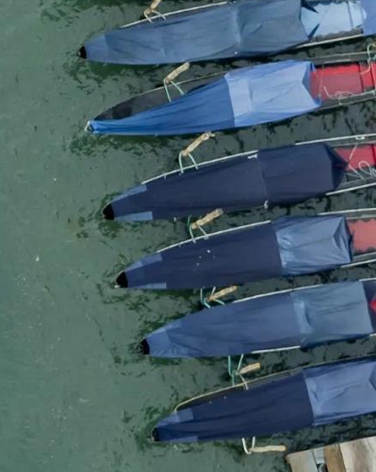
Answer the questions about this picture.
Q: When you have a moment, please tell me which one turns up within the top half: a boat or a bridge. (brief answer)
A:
boat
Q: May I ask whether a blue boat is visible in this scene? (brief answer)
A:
Yes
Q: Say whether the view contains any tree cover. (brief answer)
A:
No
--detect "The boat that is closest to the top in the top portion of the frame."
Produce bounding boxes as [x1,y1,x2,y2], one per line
[79,0,376,68]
